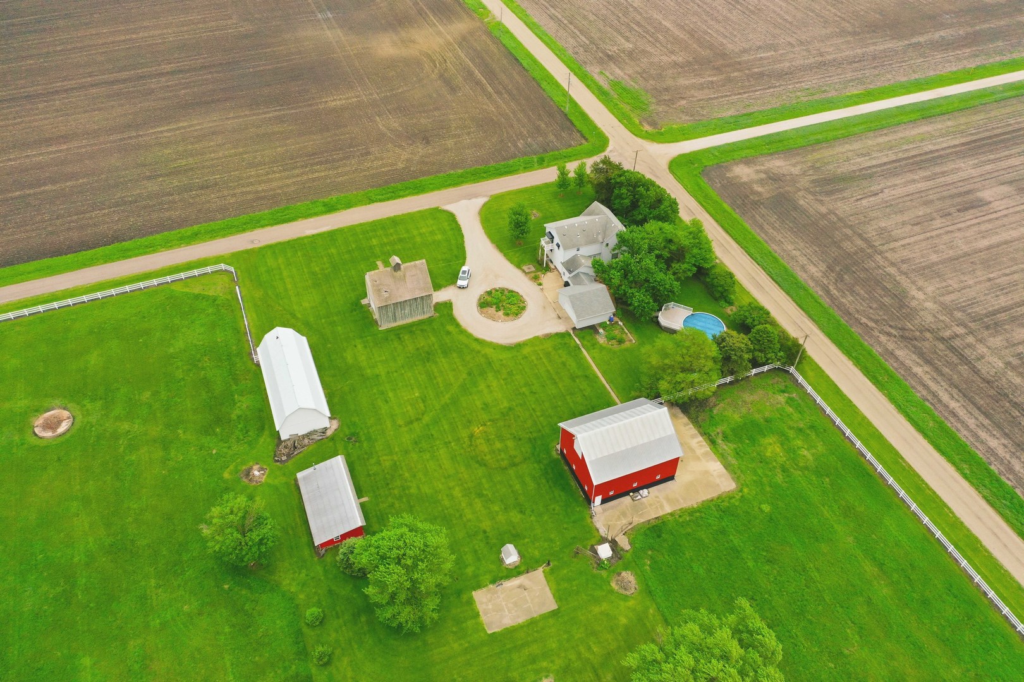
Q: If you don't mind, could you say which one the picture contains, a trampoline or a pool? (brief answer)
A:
pool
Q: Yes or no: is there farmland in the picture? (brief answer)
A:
Yes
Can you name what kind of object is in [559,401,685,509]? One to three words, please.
barn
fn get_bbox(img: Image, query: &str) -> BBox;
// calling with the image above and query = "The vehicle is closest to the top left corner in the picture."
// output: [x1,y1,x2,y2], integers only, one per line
[458,265,471,286]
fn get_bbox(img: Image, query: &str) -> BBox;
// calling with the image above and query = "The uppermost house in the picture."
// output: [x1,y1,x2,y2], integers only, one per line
[539,201,632,288]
